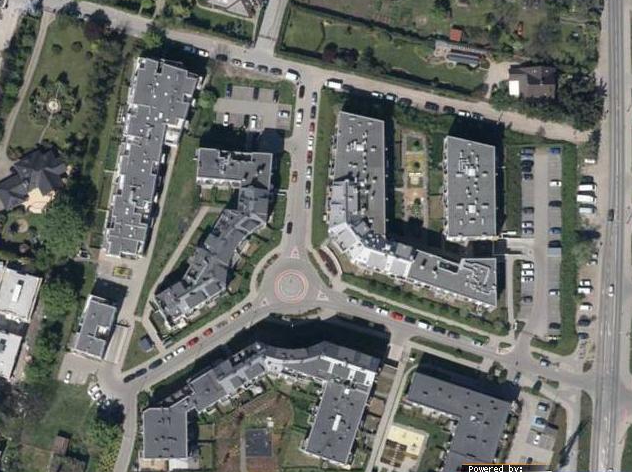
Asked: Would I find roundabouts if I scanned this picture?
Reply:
Yes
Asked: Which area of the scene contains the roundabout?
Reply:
center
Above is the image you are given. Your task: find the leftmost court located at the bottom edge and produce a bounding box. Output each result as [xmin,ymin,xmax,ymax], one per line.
[245,427,271,457]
